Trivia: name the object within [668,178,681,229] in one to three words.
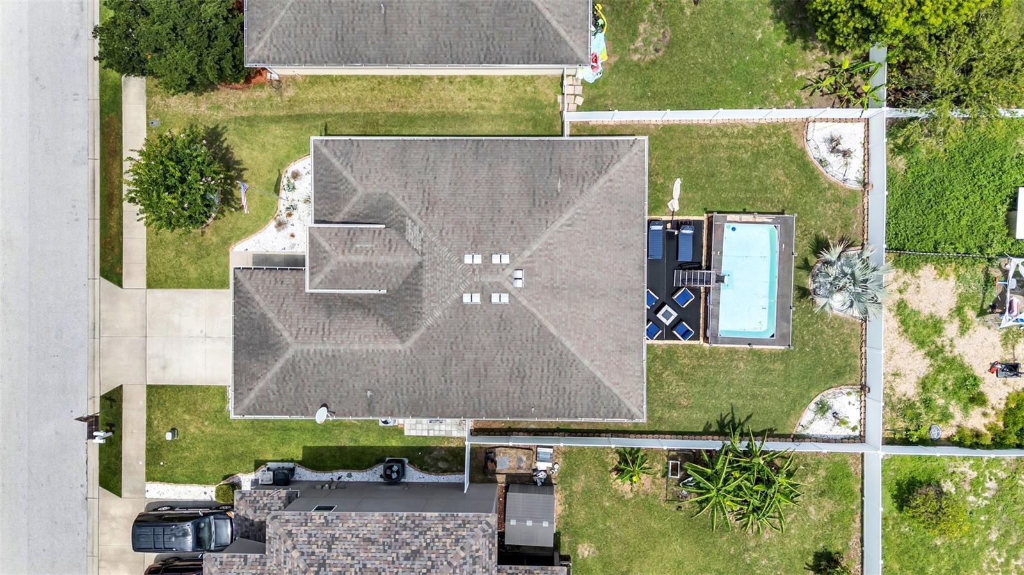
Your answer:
umbrella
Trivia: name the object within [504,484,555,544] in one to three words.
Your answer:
shed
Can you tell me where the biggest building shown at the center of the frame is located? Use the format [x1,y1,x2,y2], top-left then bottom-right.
[231,137,647,420]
